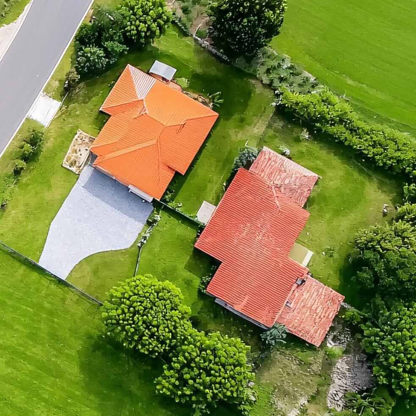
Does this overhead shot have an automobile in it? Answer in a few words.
No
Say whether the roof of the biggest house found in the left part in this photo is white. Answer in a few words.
No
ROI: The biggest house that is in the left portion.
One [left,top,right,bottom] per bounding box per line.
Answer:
[89,64,219,201]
